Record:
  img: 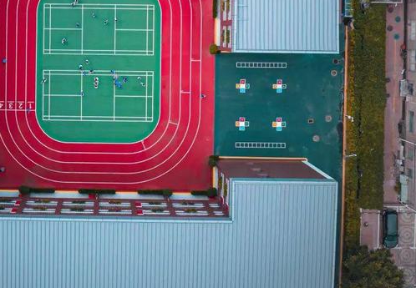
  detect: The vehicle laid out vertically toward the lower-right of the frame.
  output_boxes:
[383,209,403,250]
